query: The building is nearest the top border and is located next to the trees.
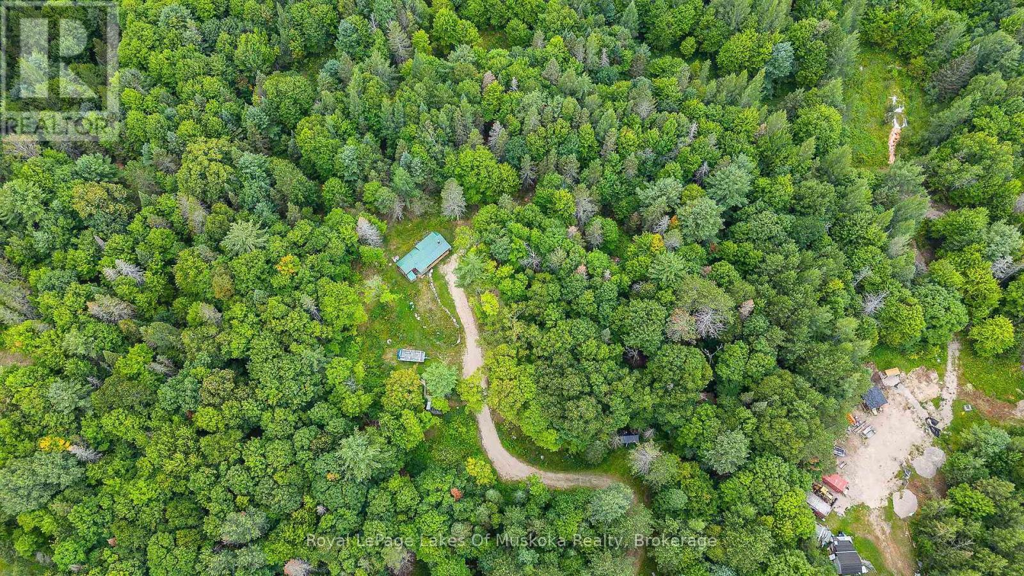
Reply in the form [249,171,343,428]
[396,231,454,283]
